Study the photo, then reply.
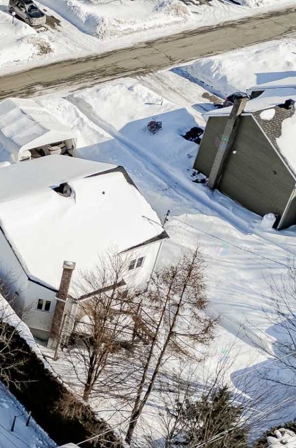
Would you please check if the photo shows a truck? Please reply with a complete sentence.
No, the scene contains no truck.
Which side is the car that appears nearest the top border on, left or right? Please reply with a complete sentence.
The car that appears nearest the top border sits on the left side.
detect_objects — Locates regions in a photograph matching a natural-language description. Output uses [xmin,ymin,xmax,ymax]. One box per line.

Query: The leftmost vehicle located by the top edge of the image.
[13,0,57,29]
